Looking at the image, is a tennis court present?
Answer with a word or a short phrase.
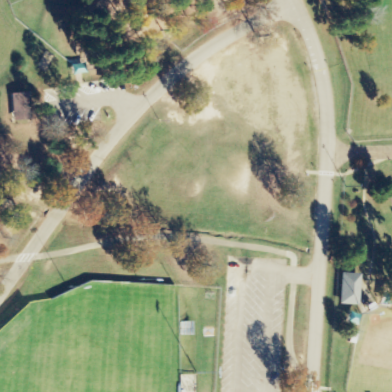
No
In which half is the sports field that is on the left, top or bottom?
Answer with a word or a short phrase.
bottom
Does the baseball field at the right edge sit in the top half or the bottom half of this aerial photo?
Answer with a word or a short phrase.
bottom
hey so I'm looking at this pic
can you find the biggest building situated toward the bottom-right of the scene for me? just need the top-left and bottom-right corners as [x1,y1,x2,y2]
[338,272,361,304]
